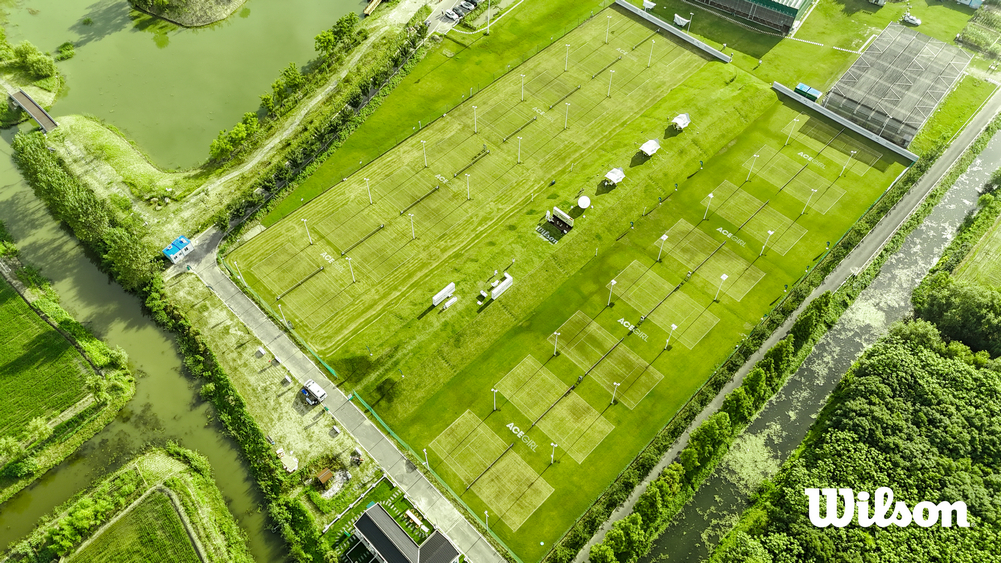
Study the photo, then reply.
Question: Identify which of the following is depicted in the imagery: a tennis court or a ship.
tennis court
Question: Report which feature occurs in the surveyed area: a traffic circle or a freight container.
freight container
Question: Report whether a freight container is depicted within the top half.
Yes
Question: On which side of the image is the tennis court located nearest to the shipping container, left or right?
right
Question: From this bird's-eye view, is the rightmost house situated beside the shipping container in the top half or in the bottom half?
top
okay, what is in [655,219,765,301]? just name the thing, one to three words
tennis court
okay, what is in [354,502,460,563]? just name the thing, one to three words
house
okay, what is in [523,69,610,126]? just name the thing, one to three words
tennis court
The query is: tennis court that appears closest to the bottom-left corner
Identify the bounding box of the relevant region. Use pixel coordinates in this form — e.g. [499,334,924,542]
[251,241,351,328]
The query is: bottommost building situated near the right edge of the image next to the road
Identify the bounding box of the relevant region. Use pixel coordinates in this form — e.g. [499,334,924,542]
[820,21,973,147]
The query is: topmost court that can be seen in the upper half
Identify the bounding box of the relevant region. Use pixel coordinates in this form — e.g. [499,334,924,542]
[605,15,689,64]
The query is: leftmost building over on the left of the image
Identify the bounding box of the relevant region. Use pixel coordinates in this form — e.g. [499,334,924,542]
[162,235,196,264]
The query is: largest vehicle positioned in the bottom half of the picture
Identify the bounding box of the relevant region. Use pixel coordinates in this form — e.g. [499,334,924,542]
[302,378,327,405]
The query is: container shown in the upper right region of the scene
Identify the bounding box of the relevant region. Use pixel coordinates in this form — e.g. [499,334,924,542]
[791,79,825,105]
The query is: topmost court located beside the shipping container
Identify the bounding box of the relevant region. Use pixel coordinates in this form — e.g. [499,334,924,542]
[782,111,883,176]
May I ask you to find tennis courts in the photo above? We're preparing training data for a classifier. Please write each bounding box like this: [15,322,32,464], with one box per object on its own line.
[742,145,847,215]
[605,15,689,64]
[782,111,883,176]
[494,355,616,464]
[655,219,765,301]
[428,410,554,531]
[564,41,651,95]
[426,131,519,198]
[546,310,665,410]
[476,99,567,161]
[251,241,351,328]
[606,260,720,350]
[701,180,807,256]
[523,69,610,126]
[314,202,413,282]
[373,165,468,238]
